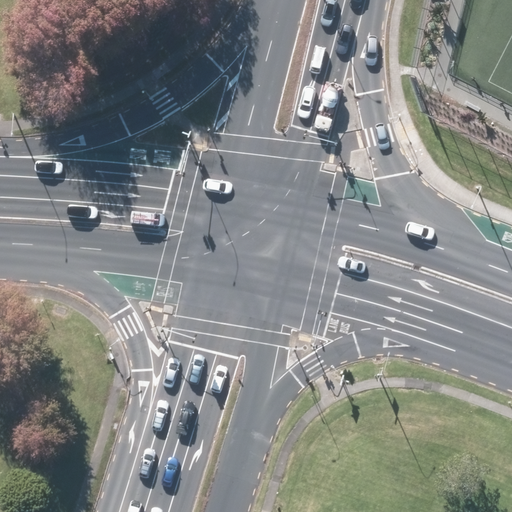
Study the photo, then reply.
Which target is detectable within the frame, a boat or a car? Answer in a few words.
car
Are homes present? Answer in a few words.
No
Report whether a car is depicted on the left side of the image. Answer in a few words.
Yes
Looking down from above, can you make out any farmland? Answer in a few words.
No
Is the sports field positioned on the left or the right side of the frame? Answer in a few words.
right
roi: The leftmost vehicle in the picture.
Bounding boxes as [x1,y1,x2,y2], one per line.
[34,161,63,176]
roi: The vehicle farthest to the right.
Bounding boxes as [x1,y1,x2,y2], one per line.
[404,222,435,240]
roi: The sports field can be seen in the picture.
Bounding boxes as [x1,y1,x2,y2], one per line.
[455,0,512,102]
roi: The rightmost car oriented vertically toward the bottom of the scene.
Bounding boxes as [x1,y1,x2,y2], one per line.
[210,364,227,394]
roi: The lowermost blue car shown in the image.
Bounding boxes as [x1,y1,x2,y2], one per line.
[162,457,178,487]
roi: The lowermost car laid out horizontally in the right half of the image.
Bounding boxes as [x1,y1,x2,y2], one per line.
[336,257,366,274]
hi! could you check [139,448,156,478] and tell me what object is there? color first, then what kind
white car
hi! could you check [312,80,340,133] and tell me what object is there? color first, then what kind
white truck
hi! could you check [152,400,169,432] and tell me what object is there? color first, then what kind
white car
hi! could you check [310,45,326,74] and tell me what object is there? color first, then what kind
white vehicle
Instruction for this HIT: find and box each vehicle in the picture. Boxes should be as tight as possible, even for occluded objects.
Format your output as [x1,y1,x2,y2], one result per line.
[336,257,366,274]
[162,457,178,487]
[128,500,142,512]
[312,80,340,133]
[310,45,326,74]
[364,35,379,66]
[374,123,390,150]
[163,357,180,388]
[202,179,233,195]
[176,400,195,436]
[66,204,98,220]
[139,448,156,478]
[336,24,354,55]
[321,0,338,26]
[149,506,162,512]
[404,222,435,240]
[210,364,227,394]
[34,161,63,176]
[298,86,316,118]
[130,212,165,228]
[352,0,367,10]
[152,400,169,432]
[188,354,204,384]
